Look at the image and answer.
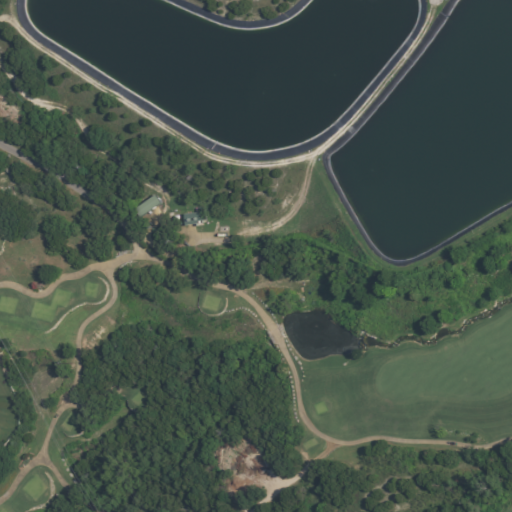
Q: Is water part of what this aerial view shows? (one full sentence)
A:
Yes, the picture does contain water.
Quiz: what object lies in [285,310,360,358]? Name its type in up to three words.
pond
